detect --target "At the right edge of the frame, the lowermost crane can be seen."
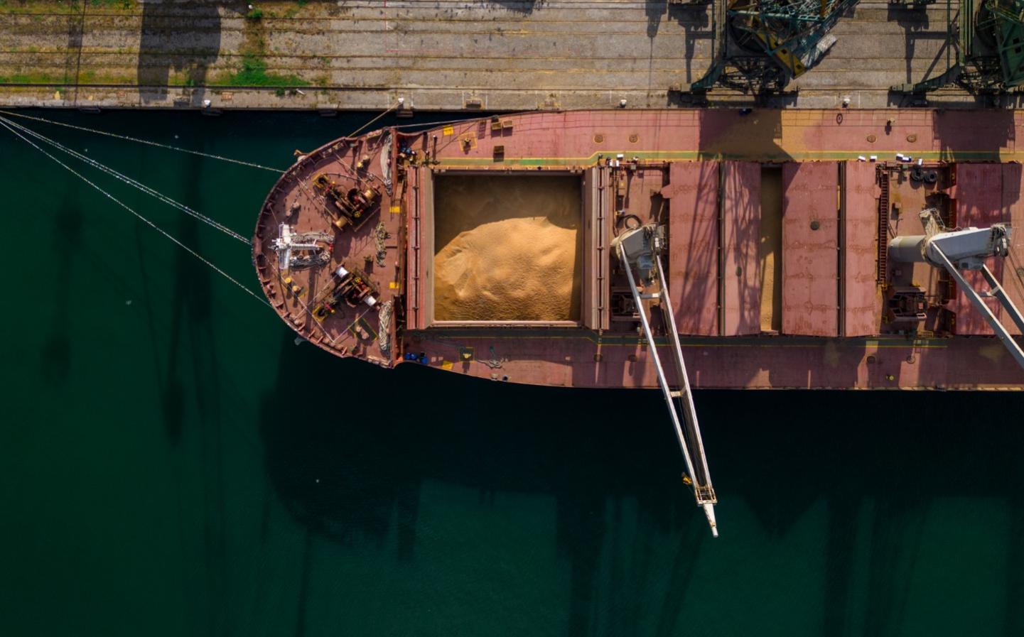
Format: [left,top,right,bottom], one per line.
[891,204,1024,355]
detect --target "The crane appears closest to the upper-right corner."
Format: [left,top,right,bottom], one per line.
[899,0,1024,91]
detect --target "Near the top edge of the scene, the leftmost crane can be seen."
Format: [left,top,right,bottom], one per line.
[674,0,847,91]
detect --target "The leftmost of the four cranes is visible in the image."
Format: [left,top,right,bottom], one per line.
[612,204,719,536]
